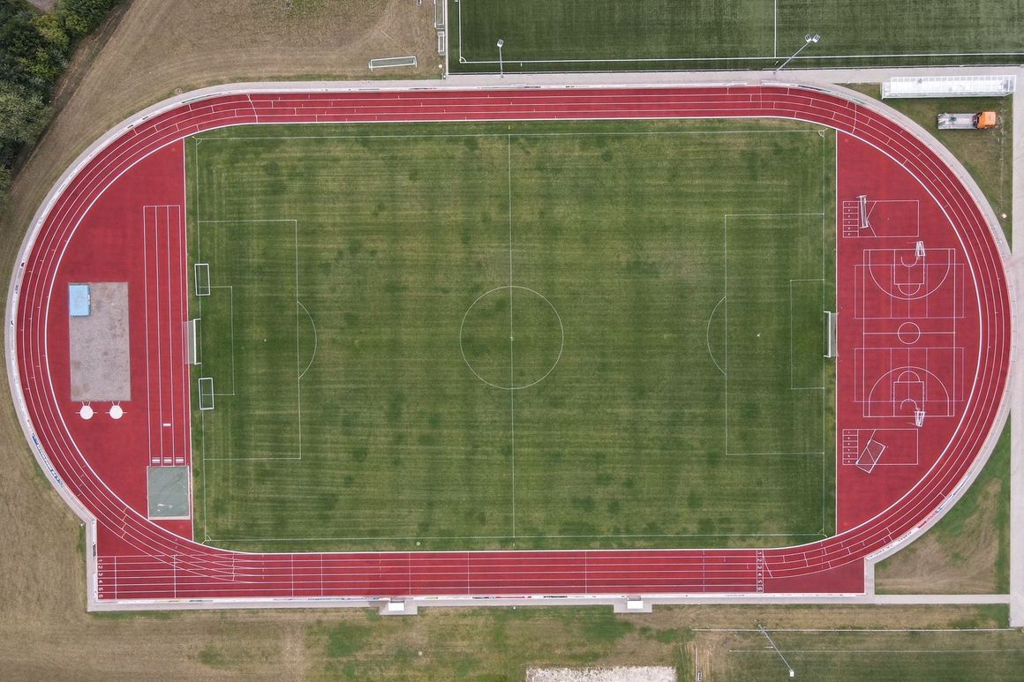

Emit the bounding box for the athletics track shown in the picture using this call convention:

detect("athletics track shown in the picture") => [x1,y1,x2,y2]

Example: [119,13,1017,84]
[16,84,1012,602]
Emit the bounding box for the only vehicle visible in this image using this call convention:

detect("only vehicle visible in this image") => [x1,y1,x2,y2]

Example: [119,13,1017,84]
[937,109,994,130]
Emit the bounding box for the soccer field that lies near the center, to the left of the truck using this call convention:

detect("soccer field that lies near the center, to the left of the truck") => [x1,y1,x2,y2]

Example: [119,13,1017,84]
[185,117,836,553]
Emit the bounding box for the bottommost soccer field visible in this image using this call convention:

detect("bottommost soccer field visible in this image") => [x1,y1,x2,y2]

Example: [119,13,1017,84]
[717,630,1024,682]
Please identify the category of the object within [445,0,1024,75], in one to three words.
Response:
soccer field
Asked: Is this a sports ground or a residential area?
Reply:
sports ground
